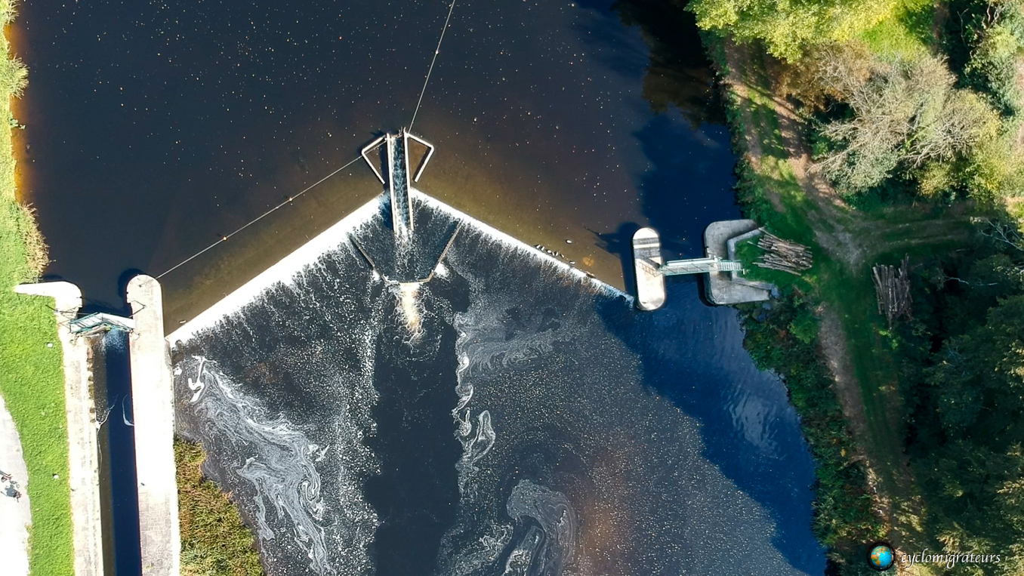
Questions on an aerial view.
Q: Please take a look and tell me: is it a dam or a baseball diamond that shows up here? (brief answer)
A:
dam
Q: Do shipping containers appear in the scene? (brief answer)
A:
No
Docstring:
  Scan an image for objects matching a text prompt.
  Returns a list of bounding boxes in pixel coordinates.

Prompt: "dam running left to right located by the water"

[168,187,633,358]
